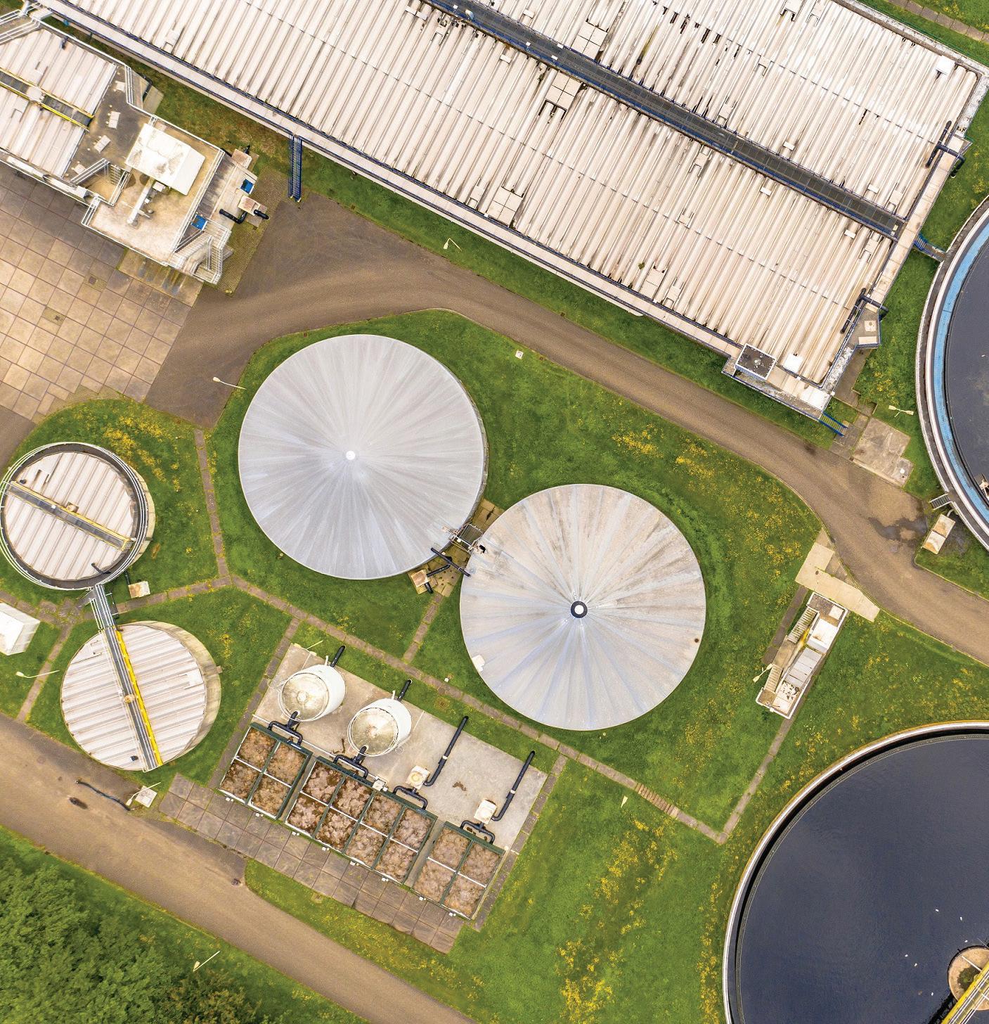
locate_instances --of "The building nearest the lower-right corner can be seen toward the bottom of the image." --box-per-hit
[755,591,849,718]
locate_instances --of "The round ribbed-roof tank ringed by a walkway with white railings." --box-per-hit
[0,444,153,588]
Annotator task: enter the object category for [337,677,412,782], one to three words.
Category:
silo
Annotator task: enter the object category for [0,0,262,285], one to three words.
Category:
building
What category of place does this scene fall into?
industrial area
